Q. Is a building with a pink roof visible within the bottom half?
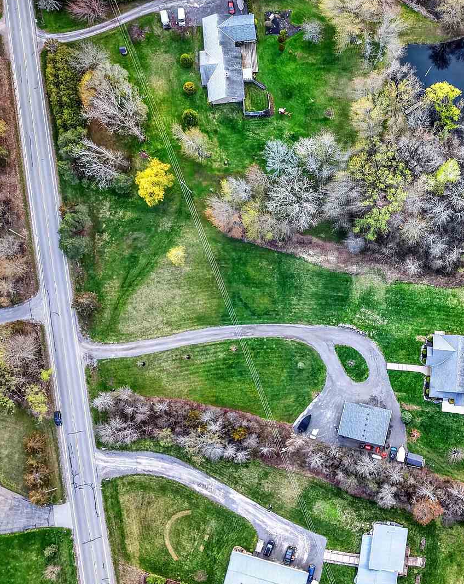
No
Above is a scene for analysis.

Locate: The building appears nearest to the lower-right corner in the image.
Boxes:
[356,524,408,584]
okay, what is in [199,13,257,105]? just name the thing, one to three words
house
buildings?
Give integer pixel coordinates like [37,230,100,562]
[338,402,392,445]
[426,336,464,406]
[199,13,257,105]
[356,524,408,584]
[224,551,309,584]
